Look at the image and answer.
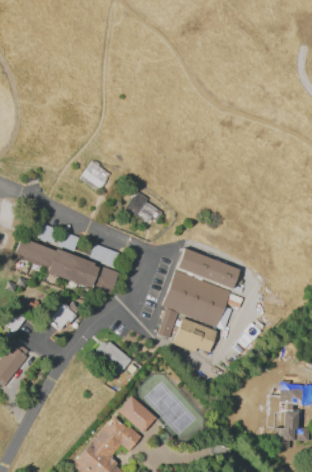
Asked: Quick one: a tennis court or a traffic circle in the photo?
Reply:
tennis court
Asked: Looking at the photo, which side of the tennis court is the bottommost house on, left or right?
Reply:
left of it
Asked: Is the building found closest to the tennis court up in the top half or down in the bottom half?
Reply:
bottom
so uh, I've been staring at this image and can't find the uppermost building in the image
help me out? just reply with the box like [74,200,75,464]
[80,160,110,192]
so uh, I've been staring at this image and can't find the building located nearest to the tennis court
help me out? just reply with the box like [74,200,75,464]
[119,396,157,432]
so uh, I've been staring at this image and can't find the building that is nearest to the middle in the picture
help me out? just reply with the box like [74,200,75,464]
[126,192,163,224]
